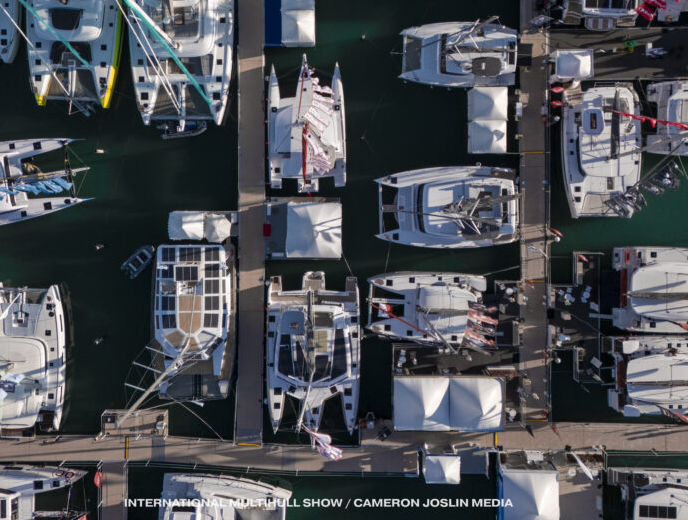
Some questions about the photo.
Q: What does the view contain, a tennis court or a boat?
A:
boat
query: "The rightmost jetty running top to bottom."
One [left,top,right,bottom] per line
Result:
[549,252,607,383]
